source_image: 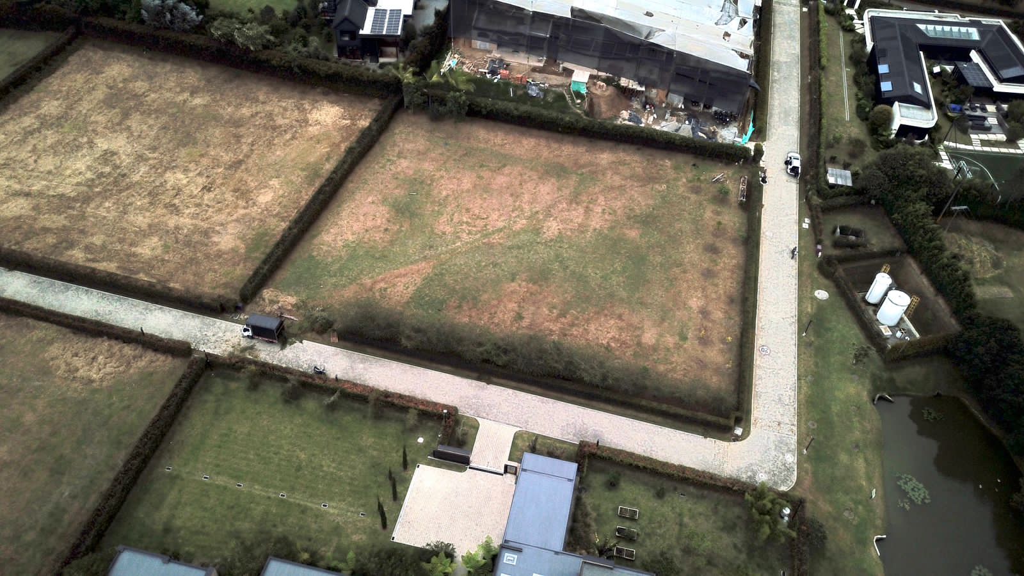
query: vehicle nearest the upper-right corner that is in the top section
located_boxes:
[781,156,803,178]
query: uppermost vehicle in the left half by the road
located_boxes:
[238,312,288,344]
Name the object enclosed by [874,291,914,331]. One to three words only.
water tank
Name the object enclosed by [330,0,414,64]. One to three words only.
house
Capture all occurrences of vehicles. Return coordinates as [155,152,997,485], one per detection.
[792,247,798,258]
[238,312,288,344]
[781,156,803,178]
[313,366,325,375]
